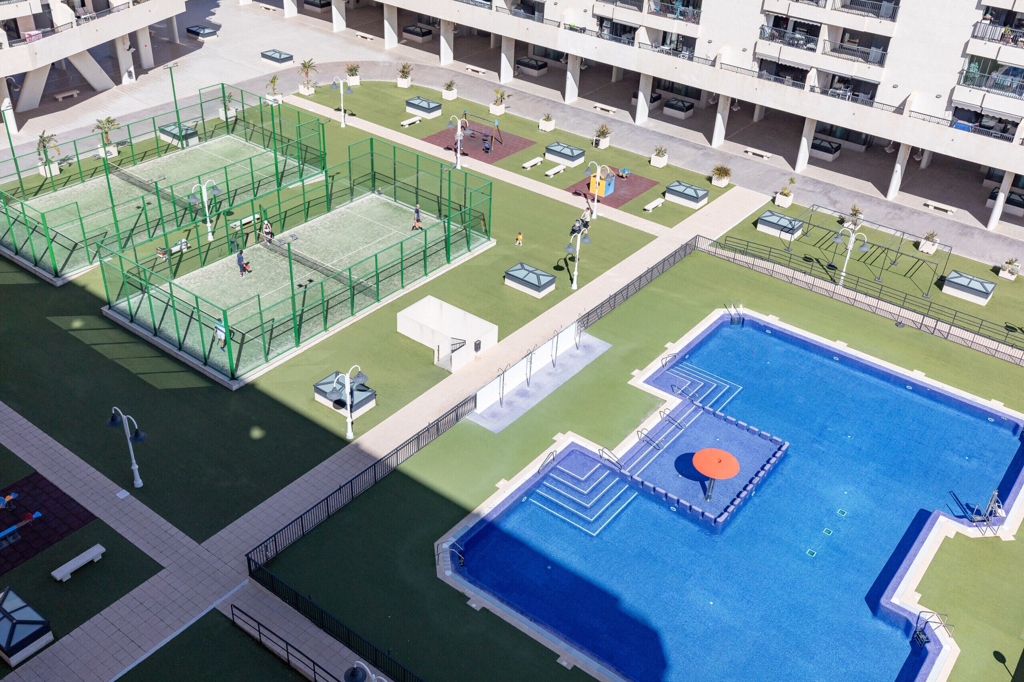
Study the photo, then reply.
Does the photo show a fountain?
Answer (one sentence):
Yes, a fountain can be made out from above.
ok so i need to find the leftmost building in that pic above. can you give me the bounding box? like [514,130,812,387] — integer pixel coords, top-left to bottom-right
[0,0,186,89]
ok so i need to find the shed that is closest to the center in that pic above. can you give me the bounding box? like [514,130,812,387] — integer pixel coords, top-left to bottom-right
[397,295,498,373]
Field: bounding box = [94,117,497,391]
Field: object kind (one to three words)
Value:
sports court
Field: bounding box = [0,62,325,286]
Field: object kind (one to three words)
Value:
sports court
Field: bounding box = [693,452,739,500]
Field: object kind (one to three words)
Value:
fountain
